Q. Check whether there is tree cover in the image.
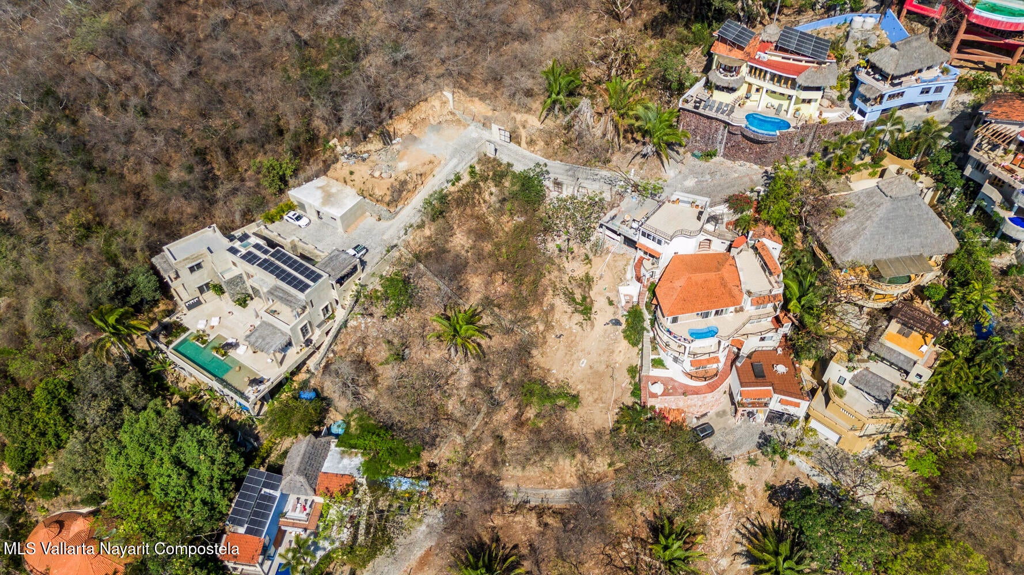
Yes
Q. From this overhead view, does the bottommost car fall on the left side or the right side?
right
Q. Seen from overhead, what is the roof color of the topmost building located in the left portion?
white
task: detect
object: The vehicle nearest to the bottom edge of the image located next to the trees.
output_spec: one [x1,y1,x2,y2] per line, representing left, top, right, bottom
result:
[690,413,720,443]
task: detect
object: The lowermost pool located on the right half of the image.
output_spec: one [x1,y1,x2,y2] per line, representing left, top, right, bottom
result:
[690,326,718,339]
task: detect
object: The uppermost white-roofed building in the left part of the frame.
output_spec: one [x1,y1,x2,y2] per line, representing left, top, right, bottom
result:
[286,175,365,235]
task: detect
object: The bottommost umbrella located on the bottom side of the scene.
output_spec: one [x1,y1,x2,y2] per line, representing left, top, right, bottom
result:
[246,371,260,386]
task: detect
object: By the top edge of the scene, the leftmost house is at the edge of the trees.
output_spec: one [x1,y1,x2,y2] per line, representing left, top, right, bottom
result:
[705,19,836,118]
